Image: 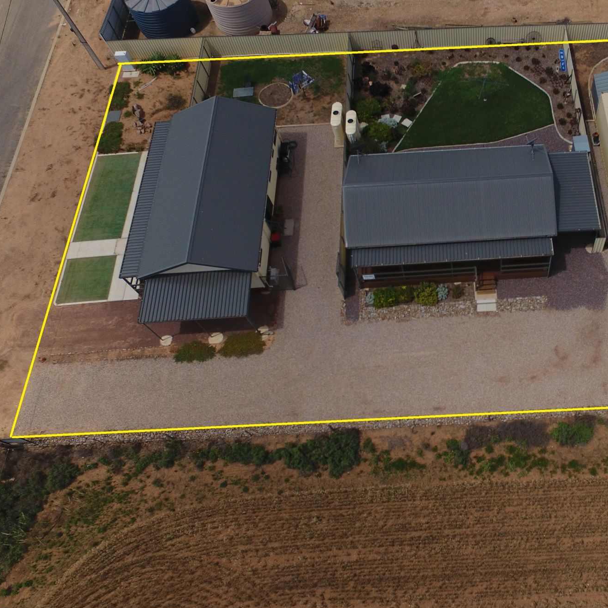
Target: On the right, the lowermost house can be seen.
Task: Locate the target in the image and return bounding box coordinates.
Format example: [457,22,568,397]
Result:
[343,143,603,311]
